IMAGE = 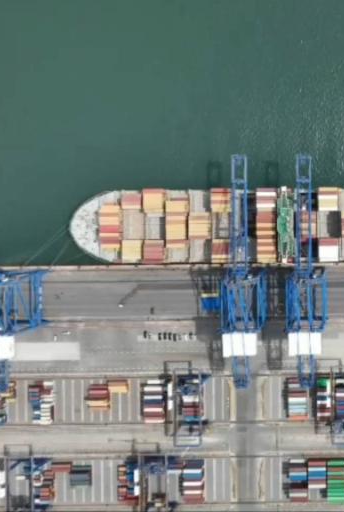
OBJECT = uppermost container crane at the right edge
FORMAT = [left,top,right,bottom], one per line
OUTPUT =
[285,154,332,387]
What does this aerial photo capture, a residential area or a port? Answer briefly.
port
